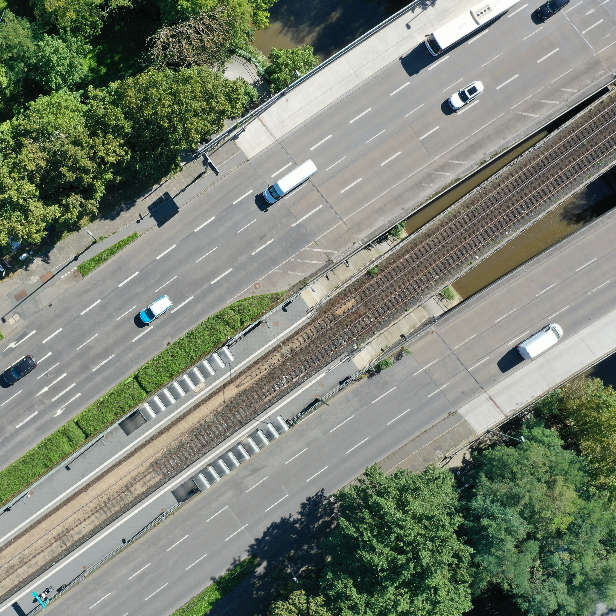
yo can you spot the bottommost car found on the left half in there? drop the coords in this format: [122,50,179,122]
[1,354,39,385]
